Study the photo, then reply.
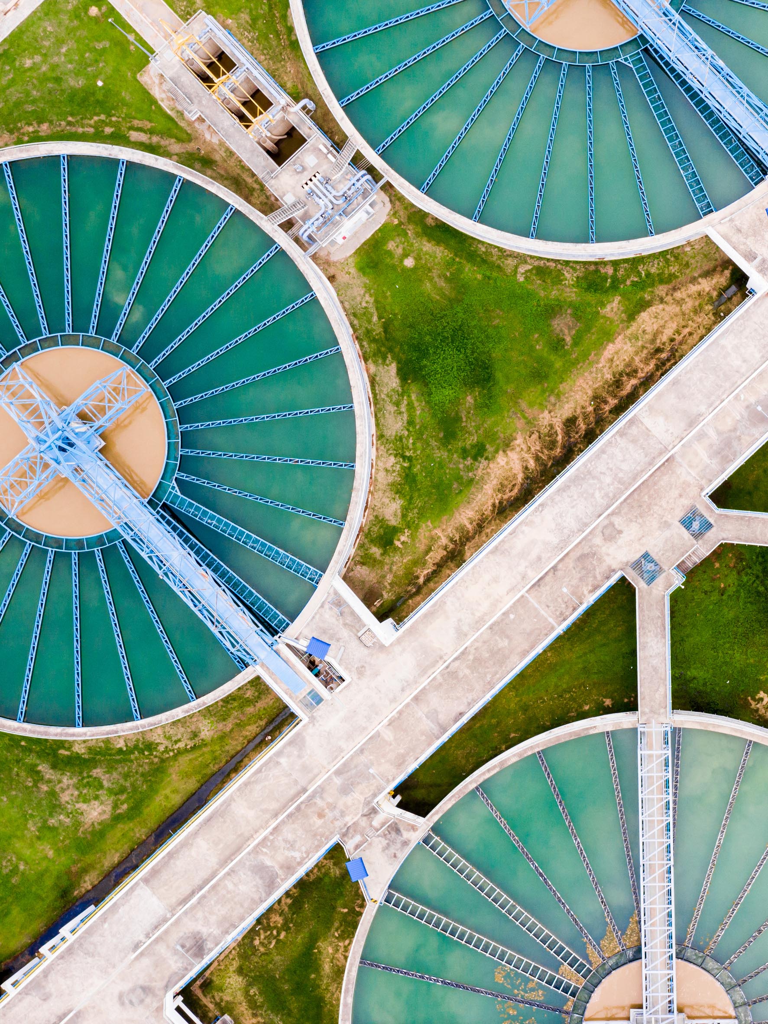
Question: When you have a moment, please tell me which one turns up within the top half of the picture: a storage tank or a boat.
storage tank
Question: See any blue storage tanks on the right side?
Yes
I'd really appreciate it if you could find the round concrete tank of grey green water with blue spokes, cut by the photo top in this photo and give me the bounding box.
[296,0,768,260]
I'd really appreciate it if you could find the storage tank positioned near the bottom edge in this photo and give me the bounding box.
[343,718,768,1024]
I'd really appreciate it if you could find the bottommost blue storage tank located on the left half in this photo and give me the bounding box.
[0,143,364,738]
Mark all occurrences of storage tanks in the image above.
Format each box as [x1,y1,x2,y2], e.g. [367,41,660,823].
[296,0,768,260]
[343,718,768,1024]
[0,143,364,738]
